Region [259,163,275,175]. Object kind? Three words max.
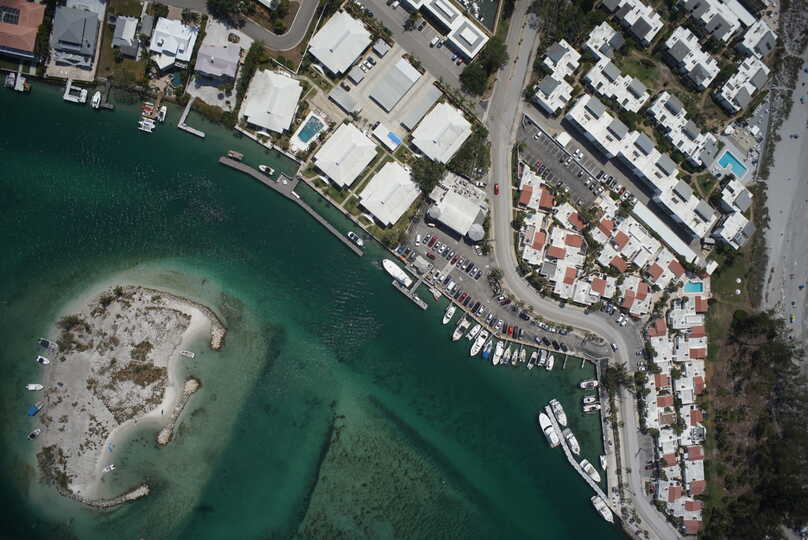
boat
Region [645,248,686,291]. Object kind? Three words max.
house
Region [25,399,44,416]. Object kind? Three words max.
boat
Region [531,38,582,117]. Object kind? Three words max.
building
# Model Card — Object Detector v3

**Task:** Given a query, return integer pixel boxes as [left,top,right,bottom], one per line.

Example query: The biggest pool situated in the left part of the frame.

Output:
[296,114,325,143]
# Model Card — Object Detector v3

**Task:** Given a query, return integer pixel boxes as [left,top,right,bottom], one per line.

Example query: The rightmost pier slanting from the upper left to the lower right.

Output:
[544,404,609,503]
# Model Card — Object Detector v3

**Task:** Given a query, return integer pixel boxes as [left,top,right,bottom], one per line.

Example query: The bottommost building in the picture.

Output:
[664,497,704,535]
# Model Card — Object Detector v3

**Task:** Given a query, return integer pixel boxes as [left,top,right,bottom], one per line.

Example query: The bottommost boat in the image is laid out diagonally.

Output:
[589,493,614,525]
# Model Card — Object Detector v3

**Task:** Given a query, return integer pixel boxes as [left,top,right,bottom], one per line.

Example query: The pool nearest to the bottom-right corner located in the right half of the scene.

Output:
[683,280,705,293]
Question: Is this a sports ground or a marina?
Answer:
marina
